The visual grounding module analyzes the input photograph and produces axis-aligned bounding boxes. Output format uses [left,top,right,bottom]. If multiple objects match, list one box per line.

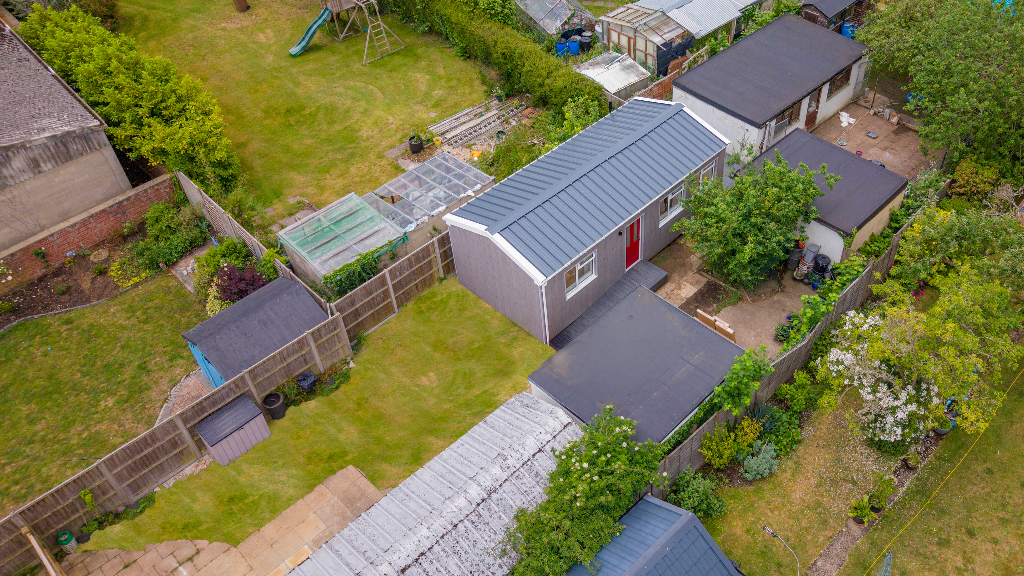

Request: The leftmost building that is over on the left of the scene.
[0,32,134,249]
